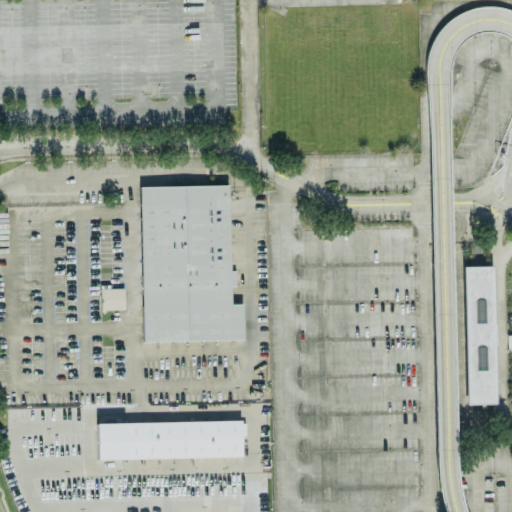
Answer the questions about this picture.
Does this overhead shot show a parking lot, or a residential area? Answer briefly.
parking lot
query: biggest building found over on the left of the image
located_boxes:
[140,186,246,346]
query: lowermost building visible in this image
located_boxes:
[98,421,247,460]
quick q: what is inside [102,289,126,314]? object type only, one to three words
shed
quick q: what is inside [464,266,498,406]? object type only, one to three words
building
